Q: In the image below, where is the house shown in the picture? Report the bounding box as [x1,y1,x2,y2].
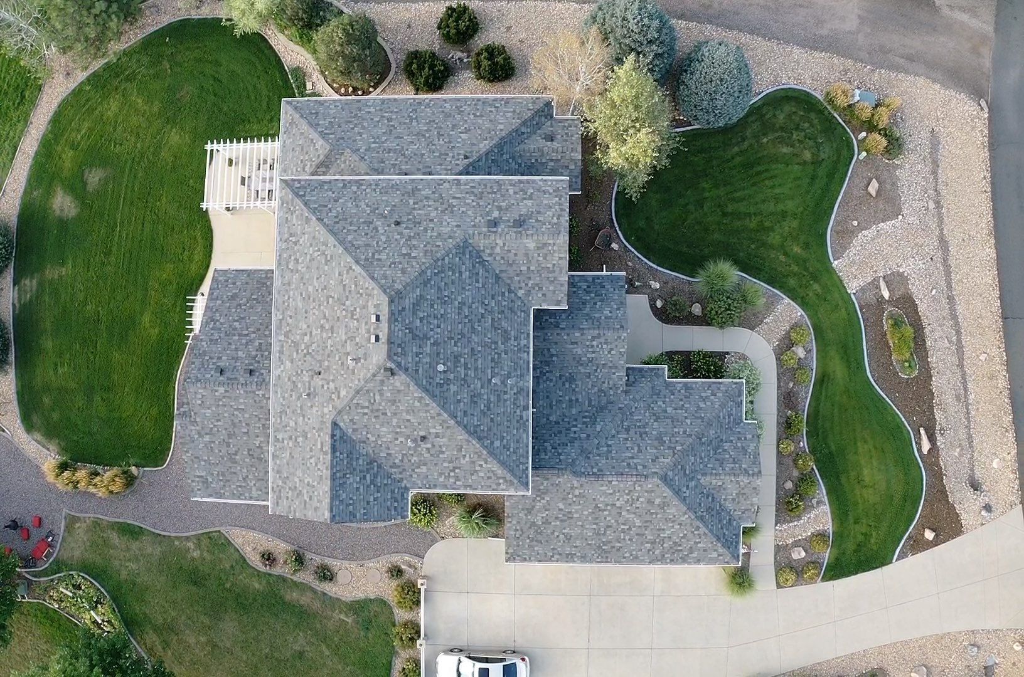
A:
[177,93,762,568]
